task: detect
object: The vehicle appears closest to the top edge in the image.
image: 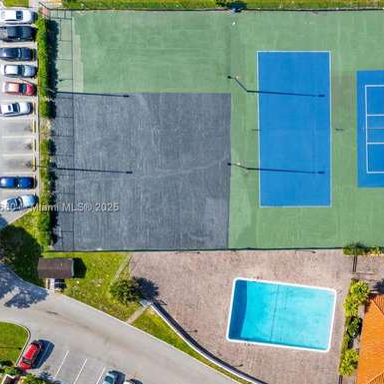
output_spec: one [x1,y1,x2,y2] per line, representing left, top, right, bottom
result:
[0,7,36,24]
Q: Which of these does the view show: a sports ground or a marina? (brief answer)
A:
sports ground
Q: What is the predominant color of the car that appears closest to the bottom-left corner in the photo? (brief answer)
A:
red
